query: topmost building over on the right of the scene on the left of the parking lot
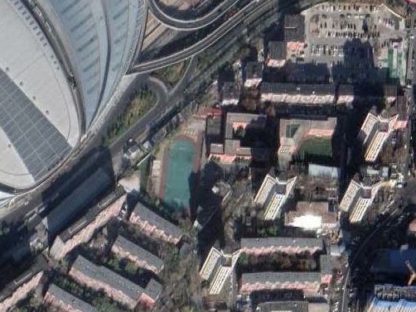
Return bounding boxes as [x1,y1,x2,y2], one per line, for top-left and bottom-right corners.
[281,15,304,47]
